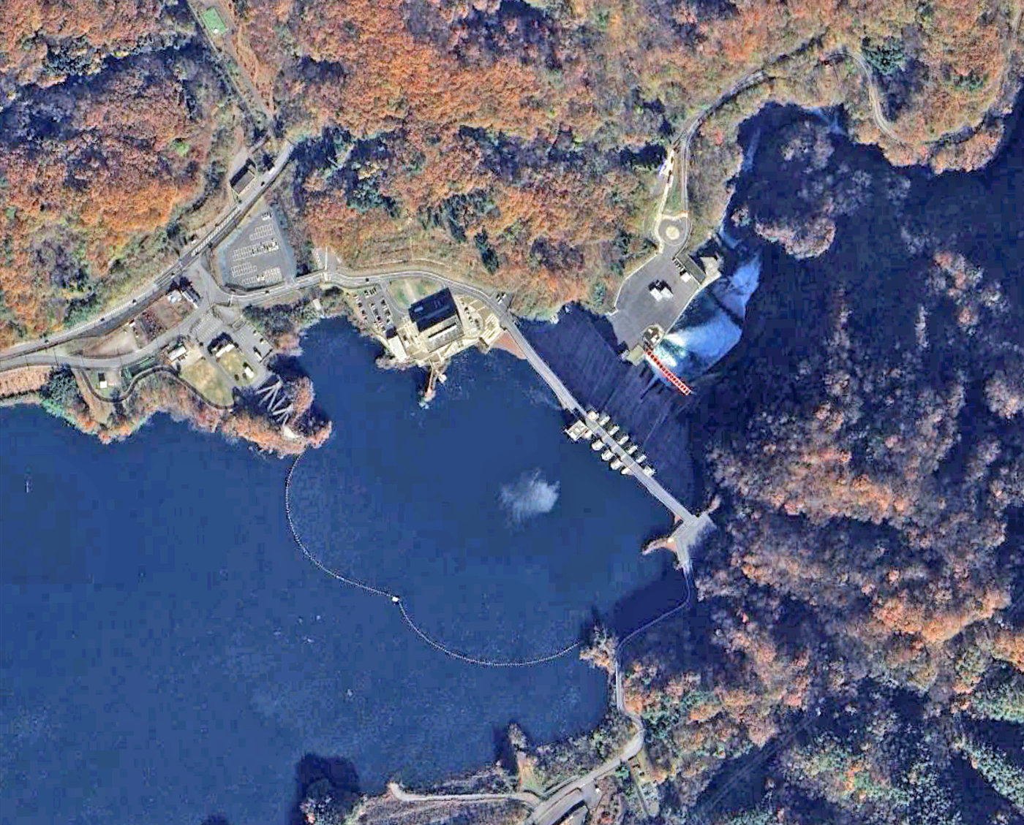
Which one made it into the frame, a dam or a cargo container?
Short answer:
dam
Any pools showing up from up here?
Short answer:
Yes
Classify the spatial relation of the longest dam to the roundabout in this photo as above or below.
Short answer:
below it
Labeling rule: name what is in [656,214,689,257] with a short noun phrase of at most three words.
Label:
roundabout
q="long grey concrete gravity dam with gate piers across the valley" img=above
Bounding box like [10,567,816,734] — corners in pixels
[496,305,708,522]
